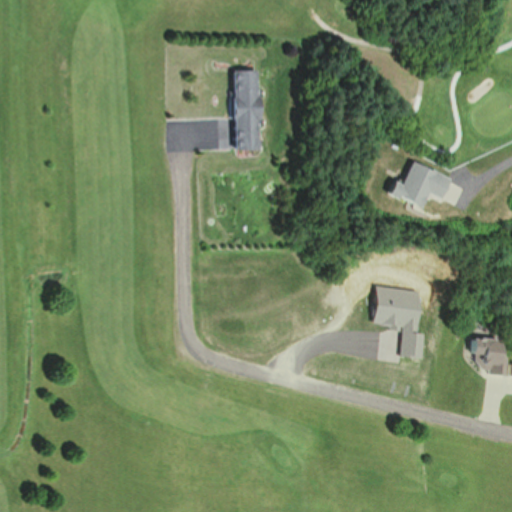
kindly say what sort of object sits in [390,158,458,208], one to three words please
house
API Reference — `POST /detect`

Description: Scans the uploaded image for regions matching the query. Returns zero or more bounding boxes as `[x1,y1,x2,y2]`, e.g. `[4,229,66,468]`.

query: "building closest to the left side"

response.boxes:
[228,69,264,150]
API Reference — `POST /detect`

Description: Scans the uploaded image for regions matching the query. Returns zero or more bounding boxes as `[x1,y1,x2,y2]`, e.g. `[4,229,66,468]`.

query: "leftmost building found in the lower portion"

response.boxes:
[375,286,426,358]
